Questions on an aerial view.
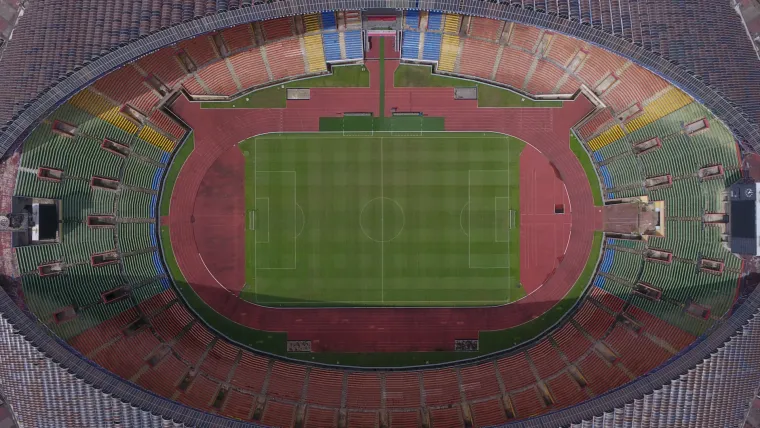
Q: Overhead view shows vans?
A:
No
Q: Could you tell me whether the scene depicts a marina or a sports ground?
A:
sports ground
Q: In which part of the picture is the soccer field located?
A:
center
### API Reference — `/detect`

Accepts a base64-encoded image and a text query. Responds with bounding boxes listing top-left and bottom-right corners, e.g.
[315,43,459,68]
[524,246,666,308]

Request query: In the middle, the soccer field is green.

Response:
[238,133,526,307]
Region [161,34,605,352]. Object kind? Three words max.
running track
